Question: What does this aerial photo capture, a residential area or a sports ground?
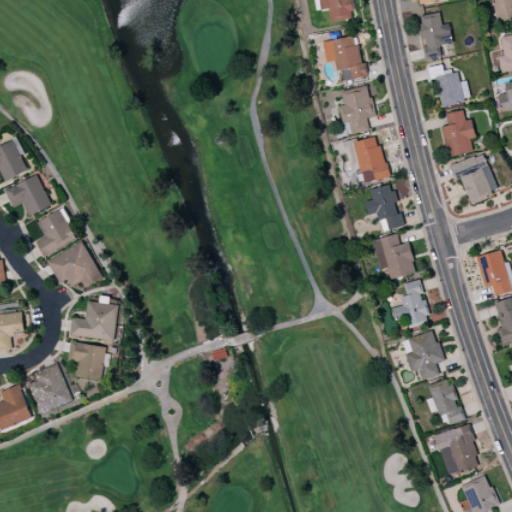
residential area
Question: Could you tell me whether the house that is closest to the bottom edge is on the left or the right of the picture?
right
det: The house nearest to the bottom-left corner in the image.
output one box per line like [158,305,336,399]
[0,385,37,434]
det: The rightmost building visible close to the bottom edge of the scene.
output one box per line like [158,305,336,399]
[462,474,504,512]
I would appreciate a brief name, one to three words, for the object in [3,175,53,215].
house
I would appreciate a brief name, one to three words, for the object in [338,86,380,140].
house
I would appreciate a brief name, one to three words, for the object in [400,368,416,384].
swimming pool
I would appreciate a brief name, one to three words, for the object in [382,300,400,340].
swimming pool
